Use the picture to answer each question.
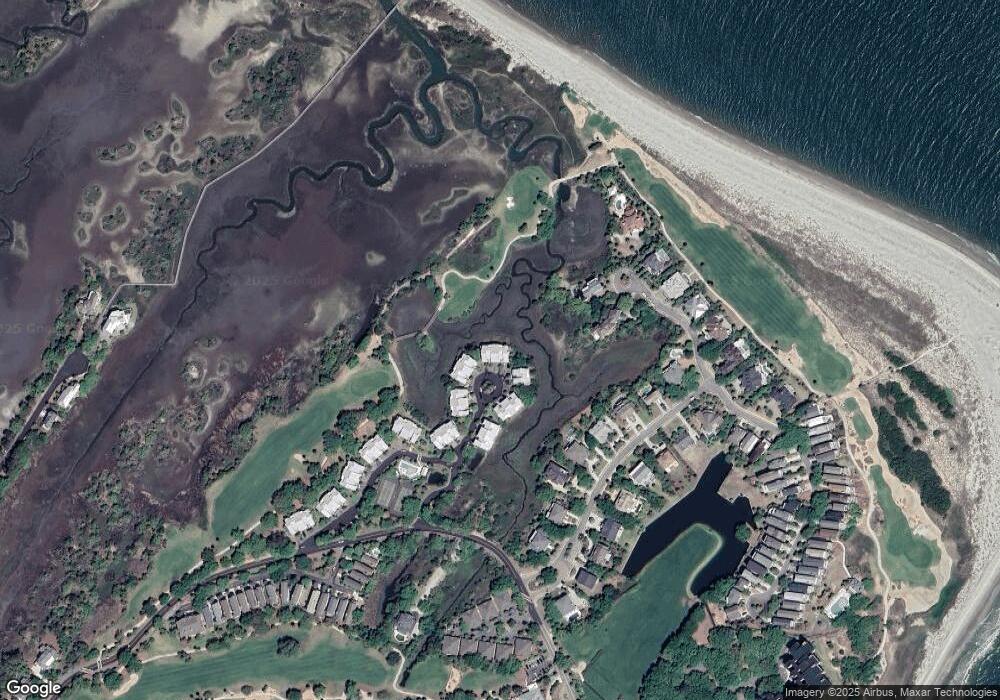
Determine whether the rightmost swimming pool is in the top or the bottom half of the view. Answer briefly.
bottom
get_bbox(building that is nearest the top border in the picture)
[617,209,646,237]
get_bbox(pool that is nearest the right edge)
[825,588,850,618]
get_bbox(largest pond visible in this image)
[624,455,753,596]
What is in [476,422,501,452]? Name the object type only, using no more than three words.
house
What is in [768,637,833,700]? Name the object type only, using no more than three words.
building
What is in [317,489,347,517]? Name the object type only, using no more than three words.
house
